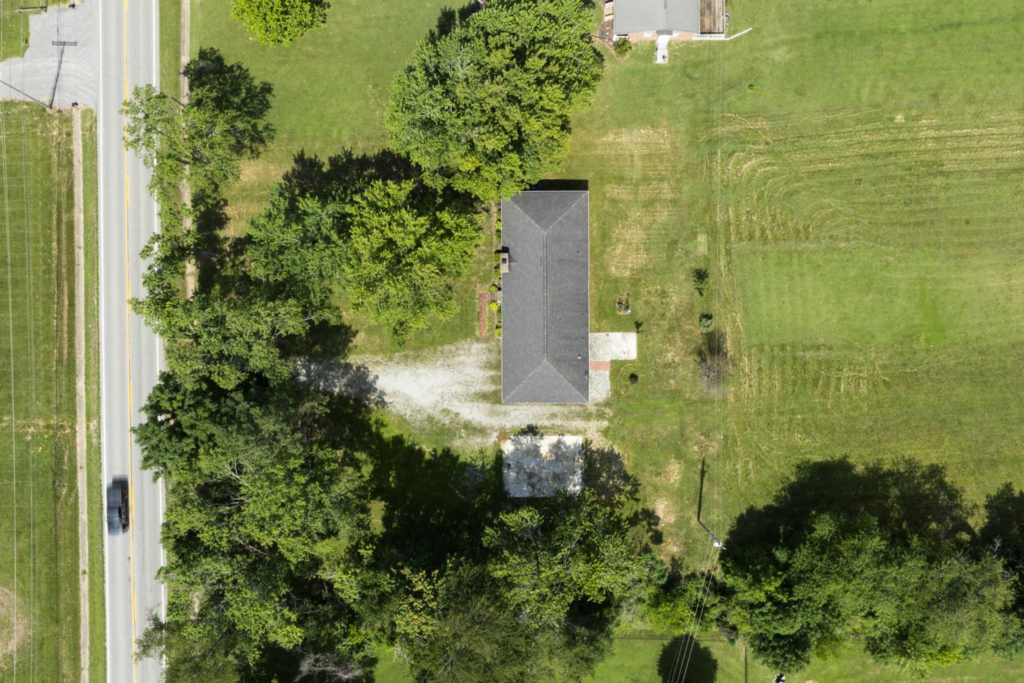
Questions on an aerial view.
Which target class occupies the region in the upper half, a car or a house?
house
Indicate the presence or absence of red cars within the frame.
No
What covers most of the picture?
grass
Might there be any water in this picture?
No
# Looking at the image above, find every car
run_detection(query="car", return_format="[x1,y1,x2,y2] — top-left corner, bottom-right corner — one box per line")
[104,491,128,536]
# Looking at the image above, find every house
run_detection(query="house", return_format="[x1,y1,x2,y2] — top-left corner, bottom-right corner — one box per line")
[501,190,590,403]
[604,0,701,42]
